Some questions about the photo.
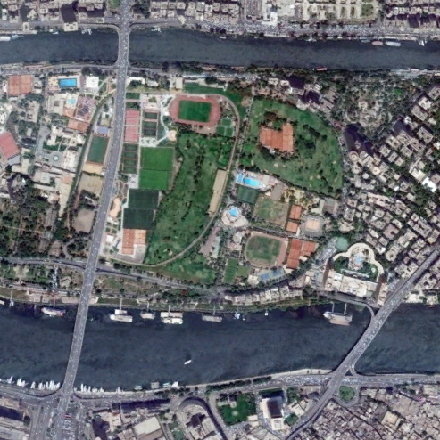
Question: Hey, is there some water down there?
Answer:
Yes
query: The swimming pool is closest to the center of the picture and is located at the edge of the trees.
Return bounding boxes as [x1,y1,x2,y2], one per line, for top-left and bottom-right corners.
[226,206,241,219]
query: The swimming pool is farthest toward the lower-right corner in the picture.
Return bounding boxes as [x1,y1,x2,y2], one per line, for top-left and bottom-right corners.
[350,249,365,269]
